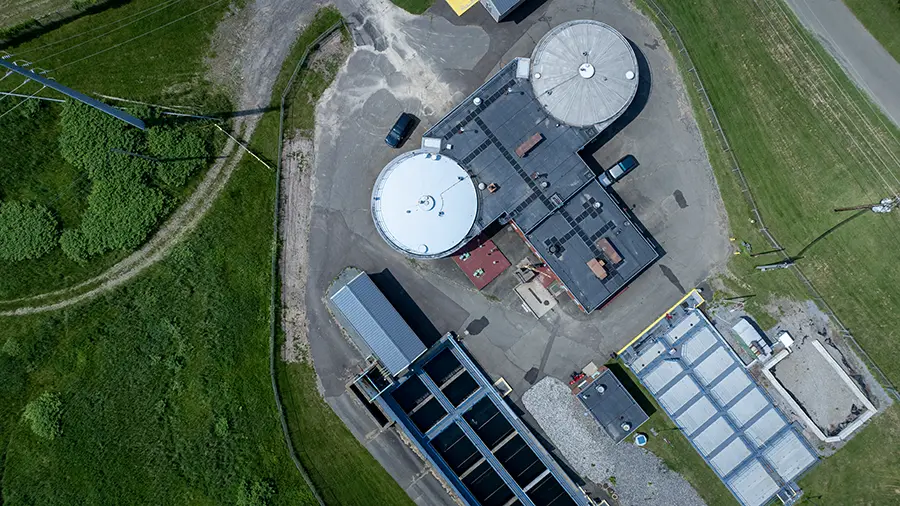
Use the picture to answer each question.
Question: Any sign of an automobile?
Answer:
Yes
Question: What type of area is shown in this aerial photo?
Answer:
industrial area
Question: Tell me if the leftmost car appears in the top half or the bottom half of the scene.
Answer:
top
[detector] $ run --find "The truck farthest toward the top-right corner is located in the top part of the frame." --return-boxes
[597,151,642,188]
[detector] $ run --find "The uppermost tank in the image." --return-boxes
[530,18,638,131]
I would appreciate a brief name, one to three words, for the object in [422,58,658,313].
building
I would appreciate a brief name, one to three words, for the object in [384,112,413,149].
car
